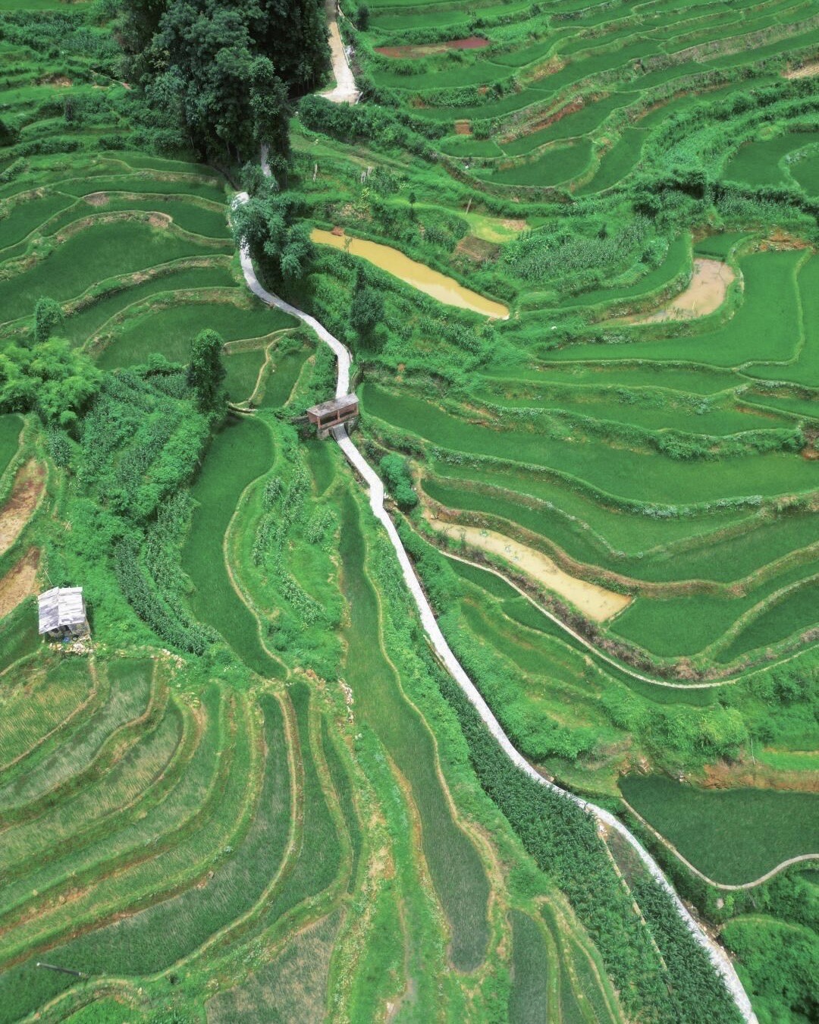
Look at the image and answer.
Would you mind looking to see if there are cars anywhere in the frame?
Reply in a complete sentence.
No, the picture doesn't show any car.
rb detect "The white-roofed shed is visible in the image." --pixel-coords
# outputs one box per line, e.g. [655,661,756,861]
[37,586,91,641]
